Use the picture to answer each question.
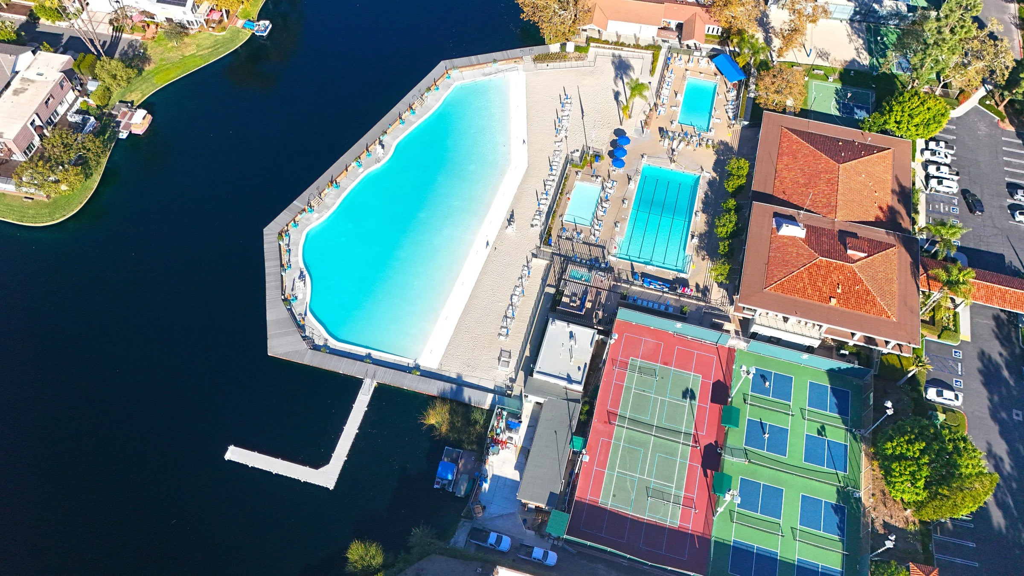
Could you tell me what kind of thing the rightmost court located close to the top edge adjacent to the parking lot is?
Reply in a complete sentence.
The rightmost court located close to the top edge adjacent to the parking lot is a basketball court.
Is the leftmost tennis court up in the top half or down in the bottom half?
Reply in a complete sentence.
The leftmost tennis court sits in the bottom half of the picture.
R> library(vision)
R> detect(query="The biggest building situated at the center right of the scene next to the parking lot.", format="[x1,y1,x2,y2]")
[725,111,922,359]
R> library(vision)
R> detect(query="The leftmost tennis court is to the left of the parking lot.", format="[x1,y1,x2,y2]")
[570,320,736,576]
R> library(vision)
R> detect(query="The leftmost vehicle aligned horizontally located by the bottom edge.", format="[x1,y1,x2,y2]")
[467,526,512,551]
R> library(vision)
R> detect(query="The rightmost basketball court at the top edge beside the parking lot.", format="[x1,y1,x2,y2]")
[865,23,940,80]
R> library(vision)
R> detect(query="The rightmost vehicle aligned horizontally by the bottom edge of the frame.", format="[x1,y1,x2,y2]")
[514,541,559,566]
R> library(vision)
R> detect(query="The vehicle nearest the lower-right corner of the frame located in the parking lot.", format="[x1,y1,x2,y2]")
[927,388,963,406]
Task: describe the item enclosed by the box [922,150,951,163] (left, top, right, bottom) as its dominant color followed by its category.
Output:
white vehicle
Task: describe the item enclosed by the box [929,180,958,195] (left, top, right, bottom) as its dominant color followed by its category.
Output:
white car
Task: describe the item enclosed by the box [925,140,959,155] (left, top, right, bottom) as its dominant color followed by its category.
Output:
white vehicle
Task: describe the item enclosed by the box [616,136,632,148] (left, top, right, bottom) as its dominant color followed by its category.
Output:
blue umbrella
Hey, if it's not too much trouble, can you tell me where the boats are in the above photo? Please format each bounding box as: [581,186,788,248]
[130,109,153,134]
[456,474,468,497]
[119,130,130,139]
[433,445,462,492]
[465,479,473,496]
[250,20,277,36]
